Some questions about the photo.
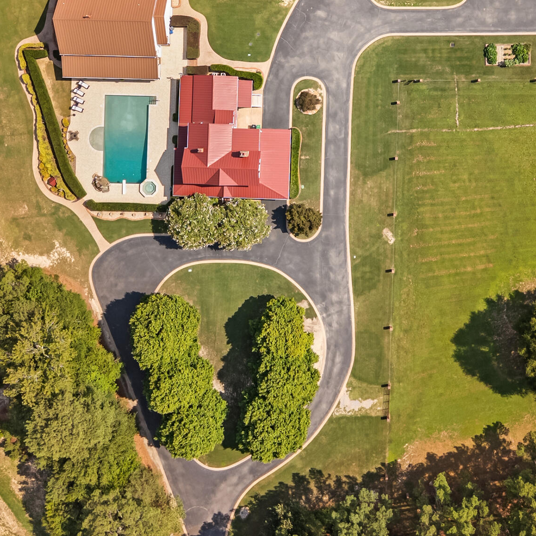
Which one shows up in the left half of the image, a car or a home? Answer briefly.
home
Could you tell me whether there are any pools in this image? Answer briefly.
Yes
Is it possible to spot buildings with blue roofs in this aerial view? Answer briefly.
No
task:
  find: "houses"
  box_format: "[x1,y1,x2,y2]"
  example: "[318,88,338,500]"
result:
[53,0,174,80]
[173,75,291,200]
